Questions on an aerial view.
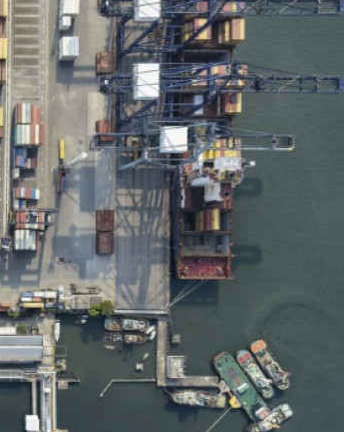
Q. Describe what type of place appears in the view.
port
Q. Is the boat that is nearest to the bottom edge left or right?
right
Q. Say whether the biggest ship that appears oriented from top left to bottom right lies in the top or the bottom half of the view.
bottom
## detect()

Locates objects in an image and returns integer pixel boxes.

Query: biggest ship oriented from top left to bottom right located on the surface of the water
[215,353,268,419]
